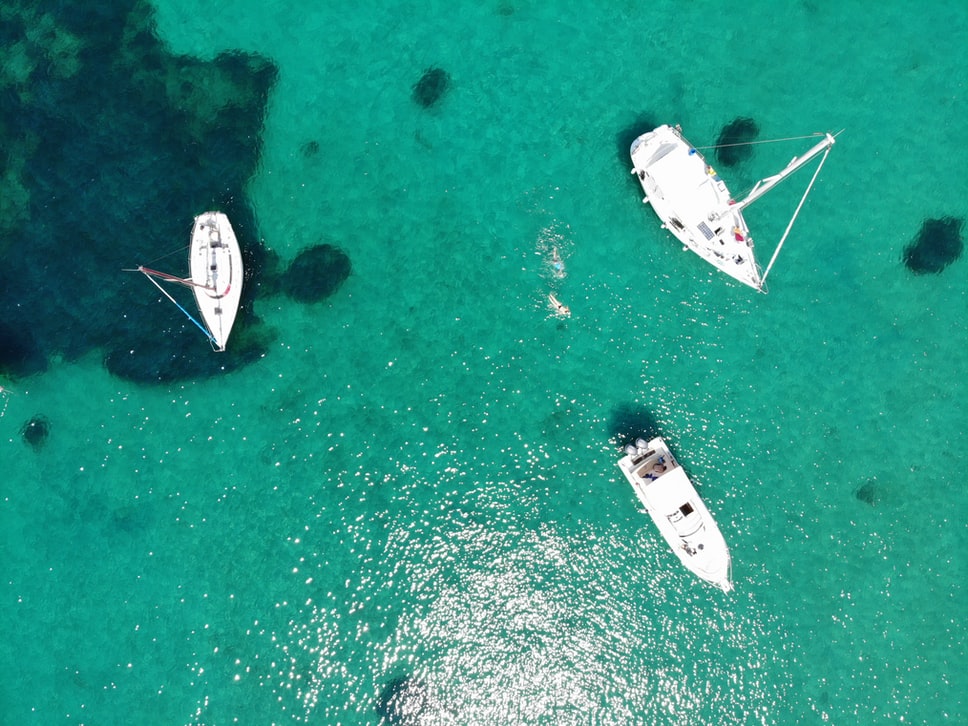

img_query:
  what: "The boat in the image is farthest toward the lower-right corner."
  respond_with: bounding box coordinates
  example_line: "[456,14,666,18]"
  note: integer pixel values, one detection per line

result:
[616,434,735,597]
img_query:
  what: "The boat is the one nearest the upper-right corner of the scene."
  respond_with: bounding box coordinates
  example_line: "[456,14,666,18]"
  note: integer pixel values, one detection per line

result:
[628,117,841,298]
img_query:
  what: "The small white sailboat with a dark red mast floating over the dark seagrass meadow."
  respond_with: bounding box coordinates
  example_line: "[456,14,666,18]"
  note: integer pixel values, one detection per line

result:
[123,211,244,354]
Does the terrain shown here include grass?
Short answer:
Yes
